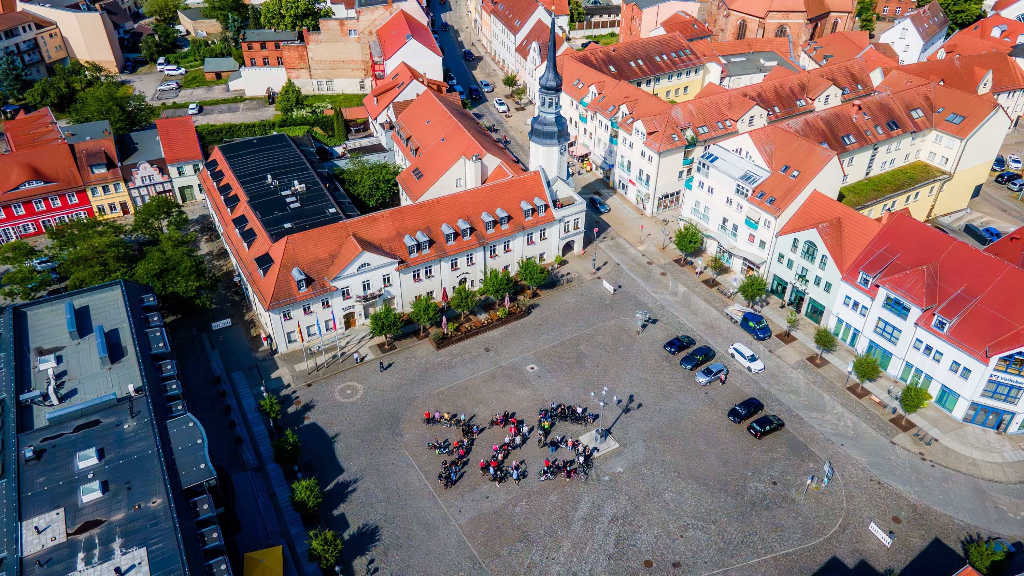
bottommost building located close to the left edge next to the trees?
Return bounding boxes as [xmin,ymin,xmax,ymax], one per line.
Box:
[0,277,258,576]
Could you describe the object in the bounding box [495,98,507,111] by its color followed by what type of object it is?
white vehicle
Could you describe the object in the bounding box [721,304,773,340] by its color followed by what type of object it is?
blue truck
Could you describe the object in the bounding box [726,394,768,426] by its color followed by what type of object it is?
black car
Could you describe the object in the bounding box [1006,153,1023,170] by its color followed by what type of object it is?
white car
